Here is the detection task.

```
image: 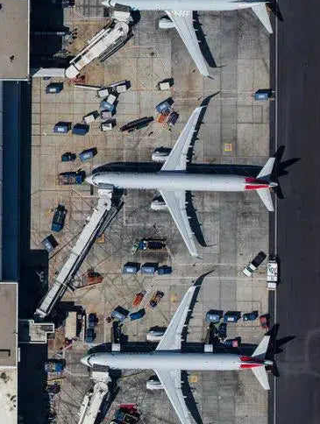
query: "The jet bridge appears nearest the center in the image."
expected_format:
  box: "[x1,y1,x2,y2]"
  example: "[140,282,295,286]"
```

[35,183,117,320]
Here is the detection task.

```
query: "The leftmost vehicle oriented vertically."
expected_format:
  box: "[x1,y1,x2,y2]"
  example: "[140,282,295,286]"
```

[51,198,66,234]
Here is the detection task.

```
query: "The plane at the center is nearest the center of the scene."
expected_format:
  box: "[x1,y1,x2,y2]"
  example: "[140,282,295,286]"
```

[85,106,277,261]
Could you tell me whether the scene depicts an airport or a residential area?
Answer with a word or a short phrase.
airport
